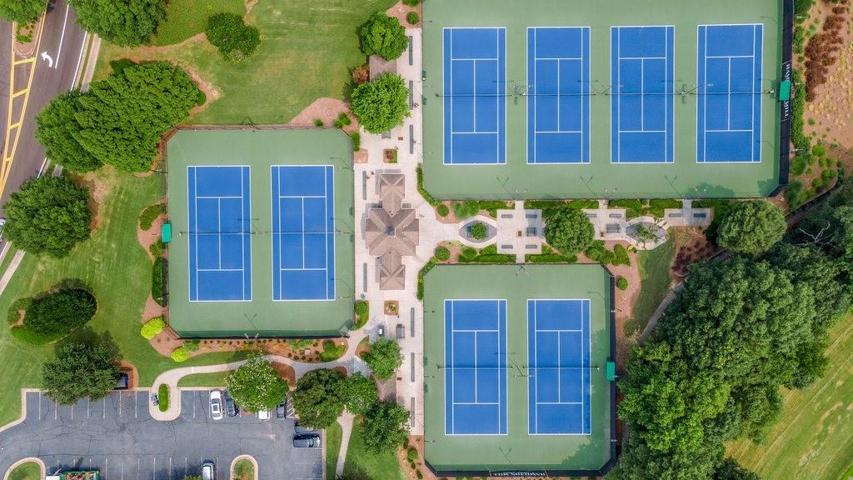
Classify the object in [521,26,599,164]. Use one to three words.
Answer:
tennis court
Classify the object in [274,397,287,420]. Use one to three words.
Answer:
vehicle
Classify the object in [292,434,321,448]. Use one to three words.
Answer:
vehicle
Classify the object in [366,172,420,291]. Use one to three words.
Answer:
building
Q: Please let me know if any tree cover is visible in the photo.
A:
Yes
